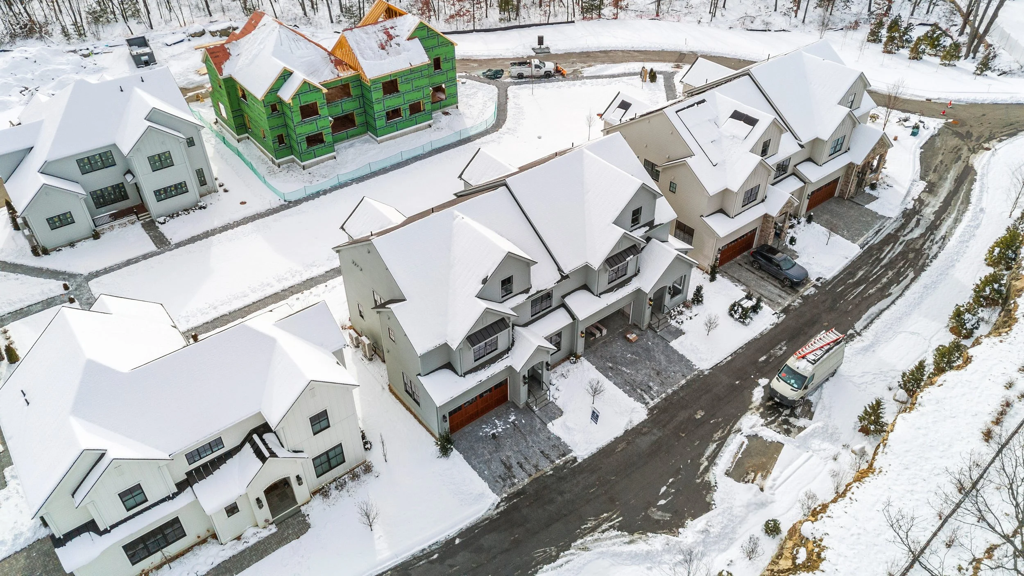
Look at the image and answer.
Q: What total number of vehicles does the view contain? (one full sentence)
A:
The count of vehicles comes to 3.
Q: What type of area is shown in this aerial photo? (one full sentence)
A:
What you see here is a residential area.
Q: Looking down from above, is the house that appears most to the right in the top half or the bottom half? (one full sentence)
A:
You can find the house that appears most to the right in the top half.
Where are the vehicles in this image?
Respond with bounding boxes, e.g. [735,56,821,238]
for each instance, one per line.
[750,245,810,287]
[512,59,565,79]
[769,328,849,406]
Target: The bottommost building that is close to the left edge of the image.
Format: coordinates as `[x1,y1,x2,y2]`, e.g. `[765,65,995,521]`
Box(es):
[0,293,365,576]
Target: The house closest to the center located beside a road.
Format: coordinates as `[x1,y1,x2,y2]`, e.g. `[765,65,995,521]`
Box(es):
[332,131,699,435]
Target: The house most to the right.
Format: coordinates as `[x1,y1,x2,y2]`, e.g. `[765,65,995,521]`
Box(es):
[599,39,893,268]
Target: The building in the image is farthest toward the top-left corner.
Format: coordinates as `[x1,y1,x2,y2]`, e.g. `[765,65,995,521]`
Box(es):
[0,66,215,245]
